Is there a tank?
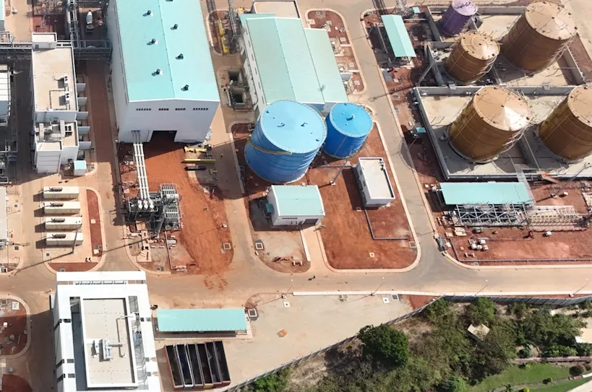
Yes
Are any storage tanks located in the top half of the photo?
Yes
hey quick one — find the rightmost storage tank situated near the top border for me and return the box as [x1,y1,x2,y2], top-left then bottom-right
[501,0,579,73]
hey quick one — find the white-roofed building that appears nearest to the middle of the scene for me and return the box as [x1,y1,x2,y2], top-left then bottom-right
[268,185,327,226]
